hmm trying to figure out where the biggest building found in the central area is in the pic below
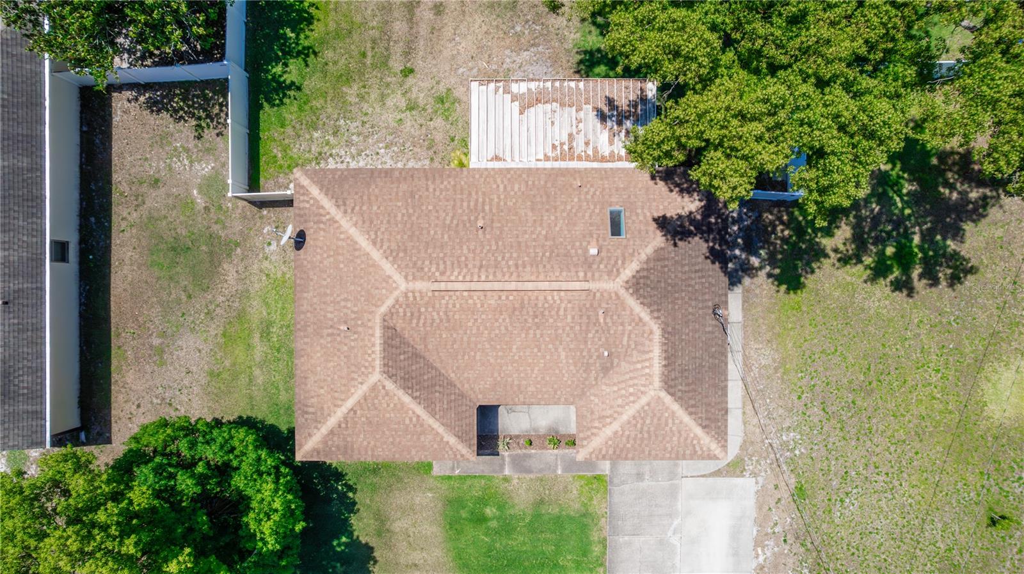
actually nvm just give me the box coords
[293,168,728,461]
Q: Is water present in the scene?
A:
No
